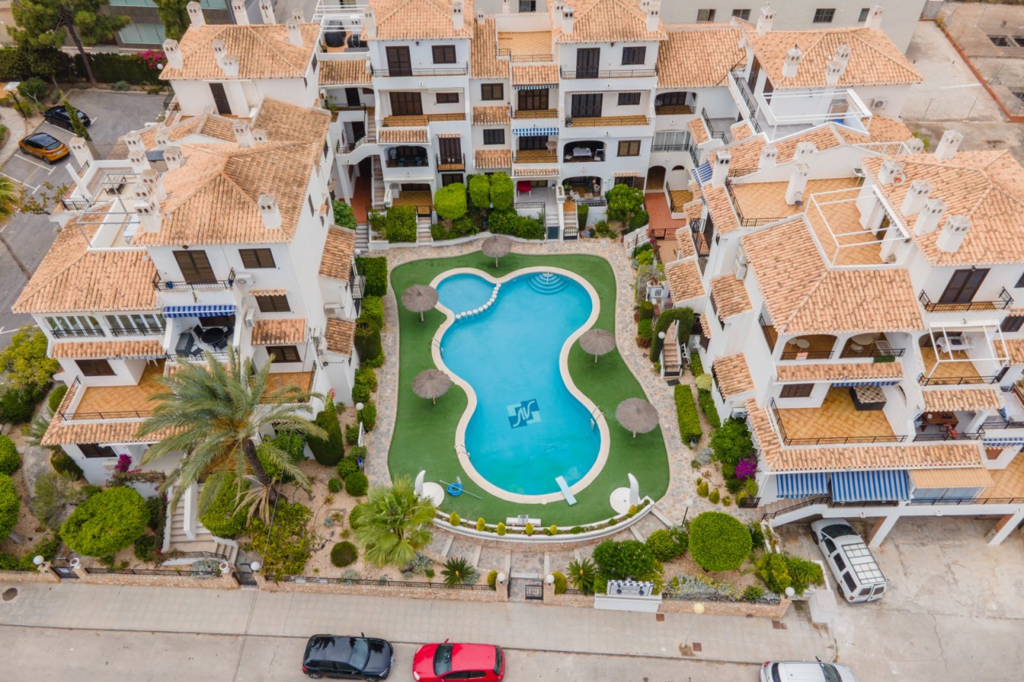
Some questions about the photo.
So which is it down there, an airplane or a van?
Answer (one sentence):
Of the two, only a van appears.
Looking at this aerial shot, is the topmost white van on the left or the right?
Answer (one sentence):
The topmost white van is on the right side of the image.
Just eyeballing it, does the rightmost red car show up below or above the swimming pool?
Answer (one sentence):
From this view, the rightmost red car can be seen below the swimming pool.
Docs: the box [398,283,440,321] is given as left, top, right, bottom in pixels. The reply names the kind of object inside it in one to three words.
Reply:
umbrella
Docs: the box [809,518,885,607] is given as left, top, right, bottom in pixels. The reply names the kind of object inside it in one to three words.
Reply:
van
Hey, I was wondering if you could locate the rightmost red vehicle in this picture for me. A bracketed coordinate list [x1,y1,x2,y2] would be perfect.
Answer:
[413,637,506,682]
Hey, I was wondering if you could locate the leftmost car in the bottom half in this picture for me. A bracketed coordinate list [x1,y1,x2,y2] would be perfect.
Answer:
[299,630,396,682]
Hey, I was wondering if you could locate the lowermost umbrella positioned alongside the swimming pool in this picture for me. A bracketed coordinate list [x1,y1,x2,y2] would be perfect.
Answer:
[613,395,663,438]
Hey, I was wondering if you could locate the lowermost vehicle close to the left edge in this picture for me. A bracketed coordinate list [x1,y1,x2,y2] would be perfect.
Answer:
[22,137,62,165]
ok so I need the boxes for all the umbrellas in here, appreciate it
[613,395,663,438]
[476,230,516,267]
[575,322,621,362]
[408,362,454,404]
[398,283,440,321]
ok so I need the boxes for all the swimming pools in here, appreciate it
[432,266,609,502]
